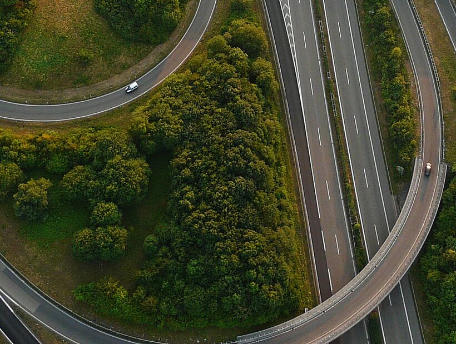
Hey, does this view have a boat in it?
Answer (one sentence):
No, I can see no boat in this picture.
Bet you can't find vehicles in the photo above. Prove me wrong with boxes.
[423,163,431,176]
[125,80,139,92]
